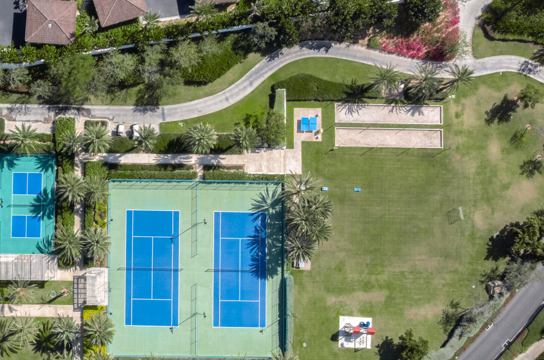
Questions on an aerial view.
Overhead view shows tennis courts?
Yes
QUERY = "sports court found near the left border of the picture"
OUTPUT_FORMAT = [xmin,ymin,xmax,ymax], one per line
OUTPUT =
[0,154,55,254]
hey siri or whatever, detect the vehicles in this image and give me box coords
[131,123,140,137]
[117,123,125,136]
